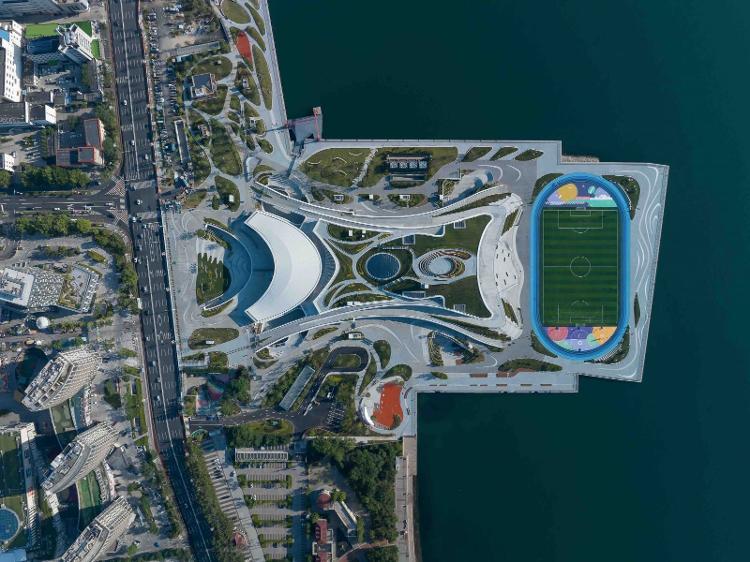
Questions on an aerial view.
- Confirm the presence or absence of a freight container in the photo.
No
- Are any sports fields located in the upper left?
No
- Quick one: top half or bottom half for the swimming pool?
bottom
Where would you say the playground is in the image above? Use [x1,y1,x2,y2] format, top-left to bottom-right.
[362,377,409,432]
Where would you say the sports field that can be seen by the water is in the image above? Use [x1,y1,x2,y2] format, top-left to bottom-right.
[531,171,631,361]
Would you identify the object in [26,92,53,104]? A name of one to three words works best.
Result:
shed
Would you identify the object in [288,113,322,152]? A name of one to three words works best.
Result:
pier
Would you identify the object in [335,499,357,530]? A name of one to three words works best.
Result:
house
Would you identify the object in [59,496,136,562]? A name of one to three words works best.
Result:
building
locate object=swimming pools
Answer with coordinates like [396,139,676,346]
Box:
[0,506,21,547]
